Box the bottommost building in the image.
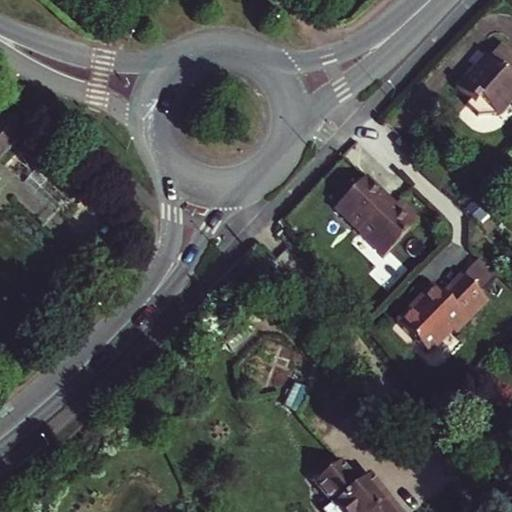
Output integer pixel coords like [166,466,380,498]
[318,460,404,512]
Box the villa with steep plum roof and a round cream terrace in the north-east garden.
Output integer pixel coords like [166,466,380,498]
[458,35,512,134]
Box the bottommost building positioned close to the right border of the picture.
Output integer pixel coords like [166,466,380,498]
[404,248,492,348]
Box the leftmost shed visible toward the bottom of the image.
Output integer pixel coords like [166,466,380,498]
[284,382,304,410]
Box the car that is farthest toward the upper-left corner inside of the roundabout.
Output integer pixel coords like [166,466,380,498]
[164,178,178,202]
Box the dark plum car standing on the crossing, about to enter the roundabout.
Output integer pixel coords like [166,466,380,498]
[204,210,224,229]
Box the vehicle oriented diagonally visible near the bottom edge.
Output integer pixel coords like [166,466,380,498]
[398,488,417,508]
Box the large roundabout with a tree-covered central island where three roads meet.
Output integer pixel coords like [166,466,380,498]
[116,26,322,233]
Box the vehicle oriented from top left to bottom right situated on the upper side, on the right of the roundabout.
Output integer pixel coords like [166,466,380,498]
[390,129,406,150]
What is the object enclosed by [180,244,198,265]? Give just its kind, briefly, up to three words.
car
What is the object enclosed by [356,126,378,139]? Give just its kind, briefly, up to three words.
vehicle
